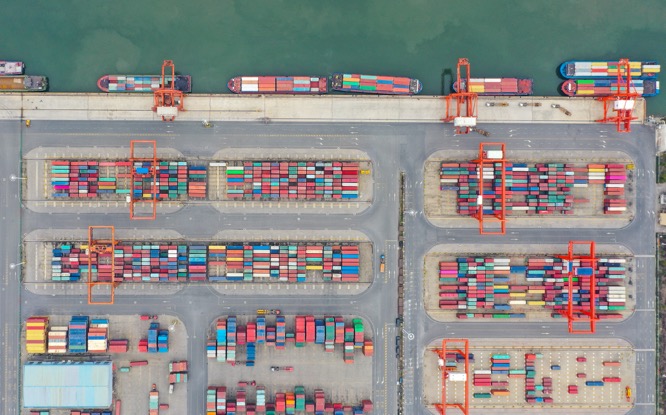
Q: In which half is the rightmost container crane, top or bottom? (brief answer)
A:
top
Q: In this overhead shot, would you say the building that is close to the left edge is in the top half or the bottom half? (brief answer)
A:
bottom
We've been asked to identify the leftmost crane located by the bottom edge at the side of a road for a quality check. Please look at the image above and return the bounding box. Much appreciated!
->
[433,339,469,415]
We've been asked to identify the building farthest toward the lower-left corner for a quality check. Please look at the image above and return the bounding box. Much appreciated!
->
[23,363,113,408]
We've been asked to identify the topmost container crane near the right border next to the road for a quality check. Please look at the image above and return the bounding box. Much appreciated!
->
[589,59,641,133]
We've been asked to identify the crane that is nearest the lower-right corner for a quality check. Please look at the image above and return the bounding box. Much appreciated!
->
[554,241,595,333]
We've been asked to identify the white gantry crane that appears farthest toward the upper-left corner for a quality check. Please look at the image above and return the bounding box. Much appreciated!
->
[151,60,189,121]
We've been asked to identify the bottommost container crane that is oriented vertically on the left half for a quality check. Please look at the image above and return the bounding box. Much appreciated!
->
[85,226,124,304]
